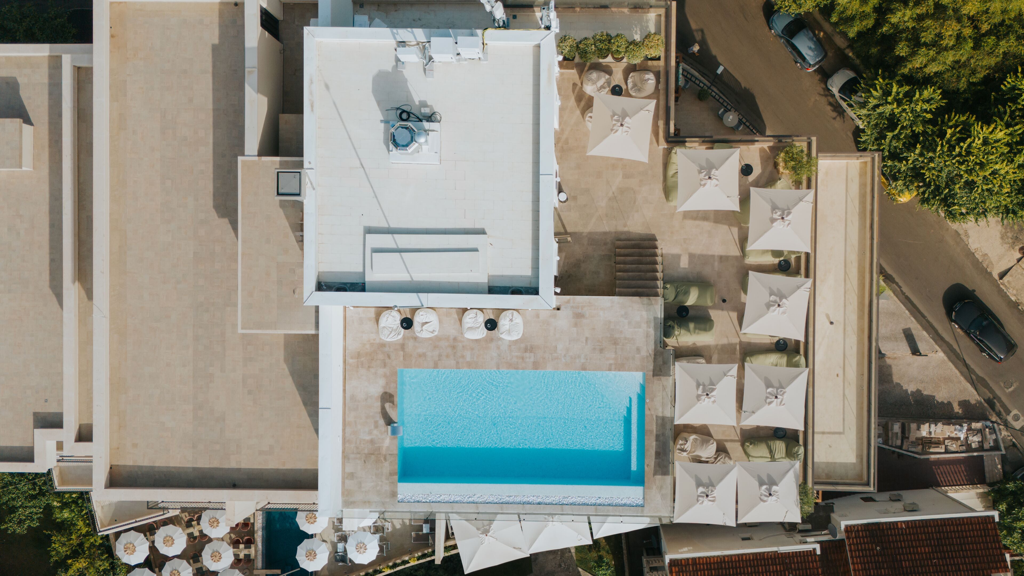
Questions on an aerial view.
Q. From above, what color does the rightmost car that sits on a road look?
black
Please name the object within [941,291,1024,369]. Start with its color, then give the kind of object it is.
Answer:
black car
